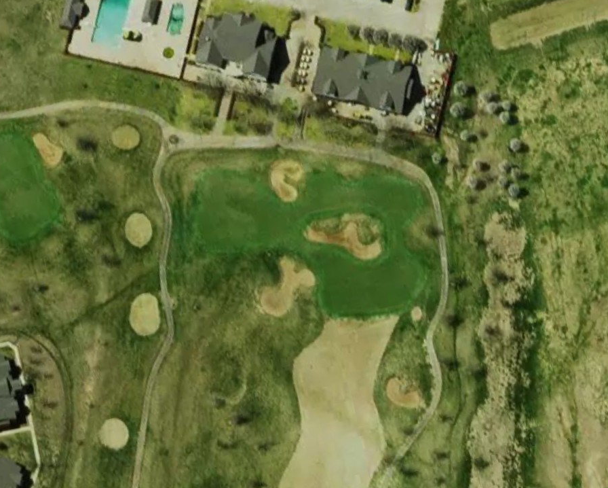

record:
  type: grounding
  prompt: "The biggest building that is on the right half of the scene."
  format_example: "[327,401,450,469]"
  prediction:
[318,47,419,110]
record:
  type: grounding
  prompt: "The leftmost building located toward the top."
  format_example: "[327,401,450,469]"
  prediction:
[59,0,87,31]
